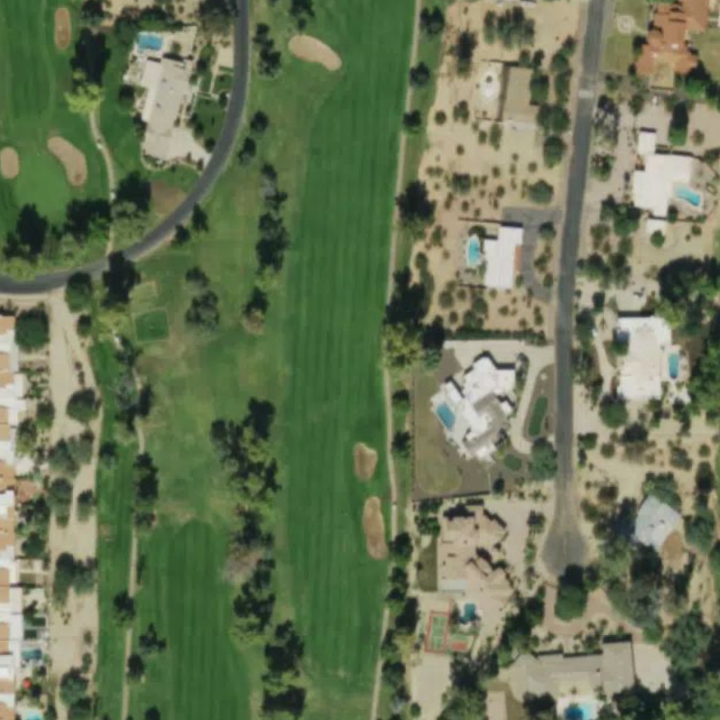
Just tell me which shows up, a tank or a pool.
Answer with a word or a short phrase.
pool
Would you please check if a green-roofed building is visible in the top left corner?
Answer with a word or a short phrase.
No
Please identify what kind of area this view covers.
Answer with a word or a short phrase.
golf course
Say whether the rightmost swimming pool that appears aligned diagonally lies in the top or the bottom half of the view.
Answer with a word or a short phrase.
top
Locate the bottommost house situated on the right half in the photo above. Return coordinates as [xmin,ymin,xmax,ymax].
[488,691,507,720]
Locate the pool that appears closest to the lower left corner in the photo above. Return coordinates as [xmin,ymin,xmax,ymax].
[27,708,43,720]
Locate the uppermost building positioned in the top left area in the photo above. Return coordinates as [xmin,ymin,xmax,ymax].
[142,58,190,158]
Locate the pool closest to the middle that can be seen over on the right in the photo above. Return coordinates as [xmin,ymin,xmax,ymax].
[435,401,456,431]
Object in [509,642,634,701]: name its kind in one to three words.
house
